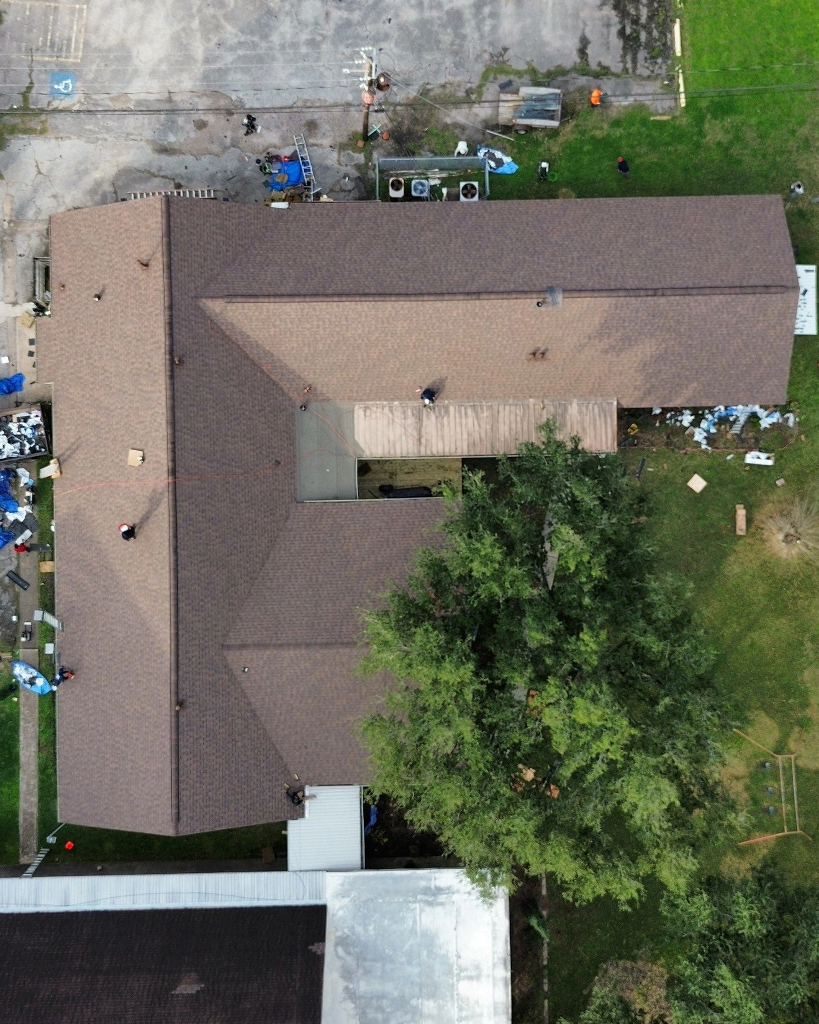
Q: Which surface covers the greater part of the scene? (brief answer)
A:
buildings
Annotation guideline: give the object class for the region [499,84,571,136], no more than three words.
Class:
trailer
